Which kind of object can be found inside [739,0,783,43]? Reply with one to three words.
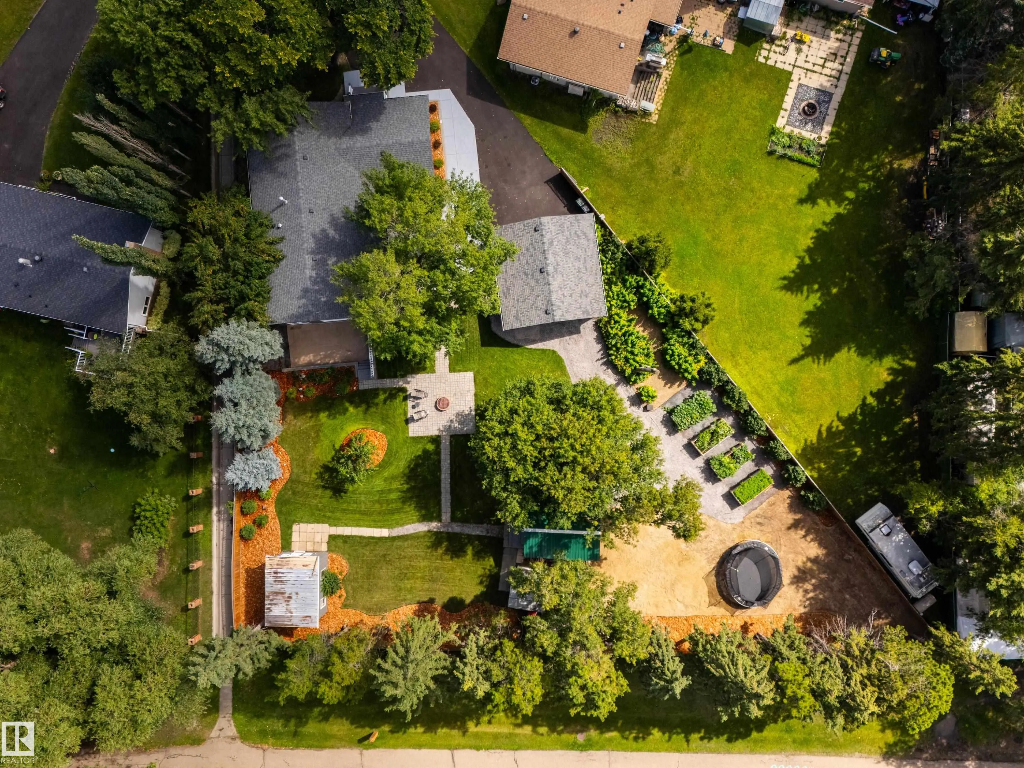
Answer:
shed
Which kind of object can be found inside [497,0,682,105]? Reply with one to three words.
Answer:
house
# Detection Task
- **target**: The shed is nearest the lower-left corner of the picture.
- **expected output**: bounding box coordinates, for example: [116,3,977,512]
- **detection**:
[262,548,326,628]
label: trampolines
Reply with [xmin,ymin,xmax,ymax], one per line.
[720,543,791,611]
